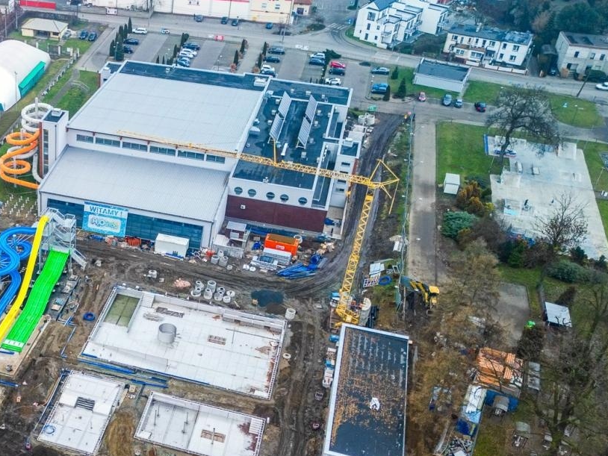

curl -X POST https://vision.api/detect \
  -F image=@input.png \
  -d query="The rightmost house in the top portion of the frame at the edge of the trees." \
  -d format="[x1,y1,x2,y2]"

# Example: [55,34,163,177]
[551,29,608,78]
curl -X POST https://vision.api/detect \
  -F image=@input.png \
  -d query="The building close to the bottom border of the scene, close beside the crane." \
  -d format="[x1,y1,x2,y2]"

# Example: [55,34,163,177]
[322,324,412,456]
